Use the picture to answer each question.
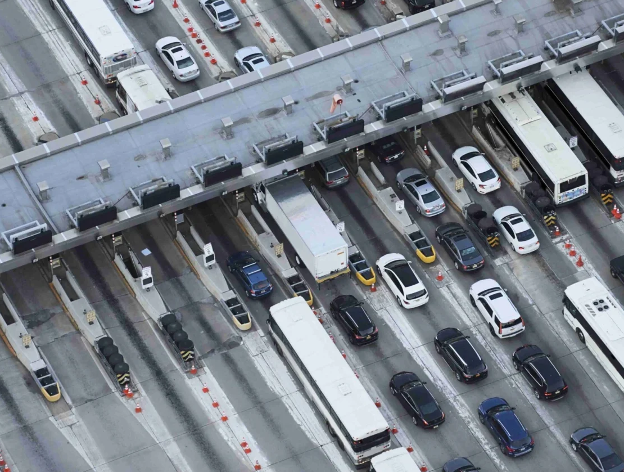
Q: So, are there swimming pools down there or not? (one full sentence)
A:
No, I can see no swimming pool in this picture.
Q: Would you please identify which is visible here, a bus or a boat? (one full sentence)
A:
Looking from above, you can make out a bus.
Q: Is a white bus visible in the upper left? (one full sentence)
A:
Yes, looking in the upper left, one can make out a white bus.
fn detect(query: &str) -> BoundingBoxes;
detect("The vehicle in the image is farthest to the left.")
[50,0,136,87]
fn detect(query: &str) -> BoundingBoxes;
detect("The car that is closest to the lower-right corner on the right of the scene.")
[572,428,624,472]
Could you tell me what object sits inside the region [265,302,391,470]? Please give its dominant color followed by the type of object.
white bus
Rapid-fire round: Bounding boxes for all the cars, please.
[391,374,445,430]
[404,0,438,17]
[229,254,273,300]
[398,170,445,218]
[333,0,365,11]
[437,225,484,271]
[470,281,526,339]
[479,400,534,458]
[572,428,624,472]
[513,346,568,402]
[610,256,624,284]
[377,254,429,308]
[124,0,154,15]
[200,0,240,34]
[365,26,384,35]
[493,208,540,253]
[435,328,488,385]
[368,133,403,163]
[453,149,501,195]
[236,44,274,74]
[156,38,199,81]
[450,462,482,472]
[309,153,351,189]
[331,297,378,346]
